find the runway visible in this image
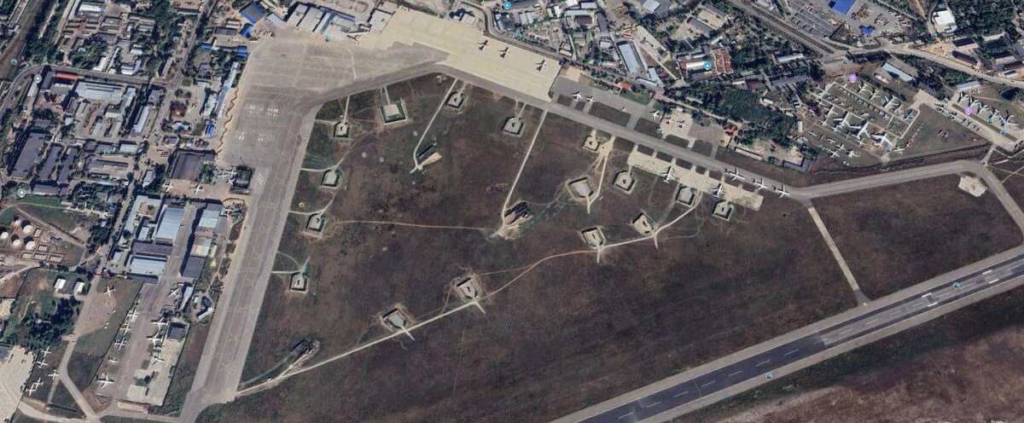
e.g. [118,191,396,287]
[550,245,1024,423]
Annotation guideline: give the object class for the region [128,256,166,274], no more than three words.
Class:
hangar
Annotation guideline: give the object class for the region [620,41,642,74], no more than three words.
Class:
building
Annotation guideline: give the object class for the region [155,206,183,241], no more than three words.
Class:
hangar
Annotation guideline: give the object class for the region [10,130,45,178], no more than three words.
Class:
building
